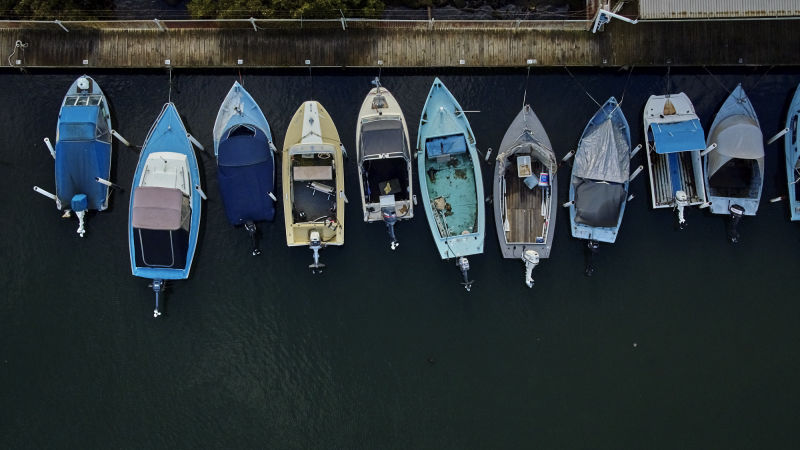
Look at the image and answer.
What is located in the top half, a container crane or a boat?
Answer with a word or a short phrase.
boat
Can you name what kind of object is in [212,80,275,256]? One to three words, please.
boat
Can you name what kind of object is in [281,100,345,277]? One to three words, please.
boat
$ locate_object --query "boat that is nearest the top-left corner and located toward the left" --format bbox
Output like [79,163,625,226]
[54,74,113,239]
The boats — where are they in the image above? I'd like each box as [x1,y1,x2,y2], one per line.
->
[281,100,345,277]
[783,83,800,220]
[128,102,202,318]
[644,91,707,230]
[414,77,485,292]
[705,84,765,245]
[212,80,275,256]
[493,102,559,289]
[54,74,113,239]
[569,96,632,276]
[356,77,413,248]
